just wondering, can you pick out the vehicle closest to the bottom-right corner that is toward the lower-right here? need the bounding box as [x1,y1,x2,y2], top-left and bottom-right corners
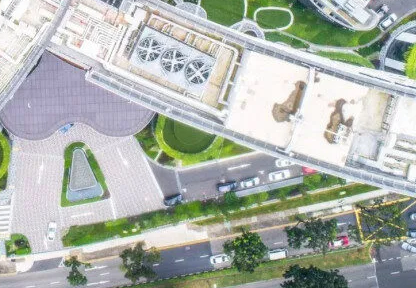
[401,240,416,254]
